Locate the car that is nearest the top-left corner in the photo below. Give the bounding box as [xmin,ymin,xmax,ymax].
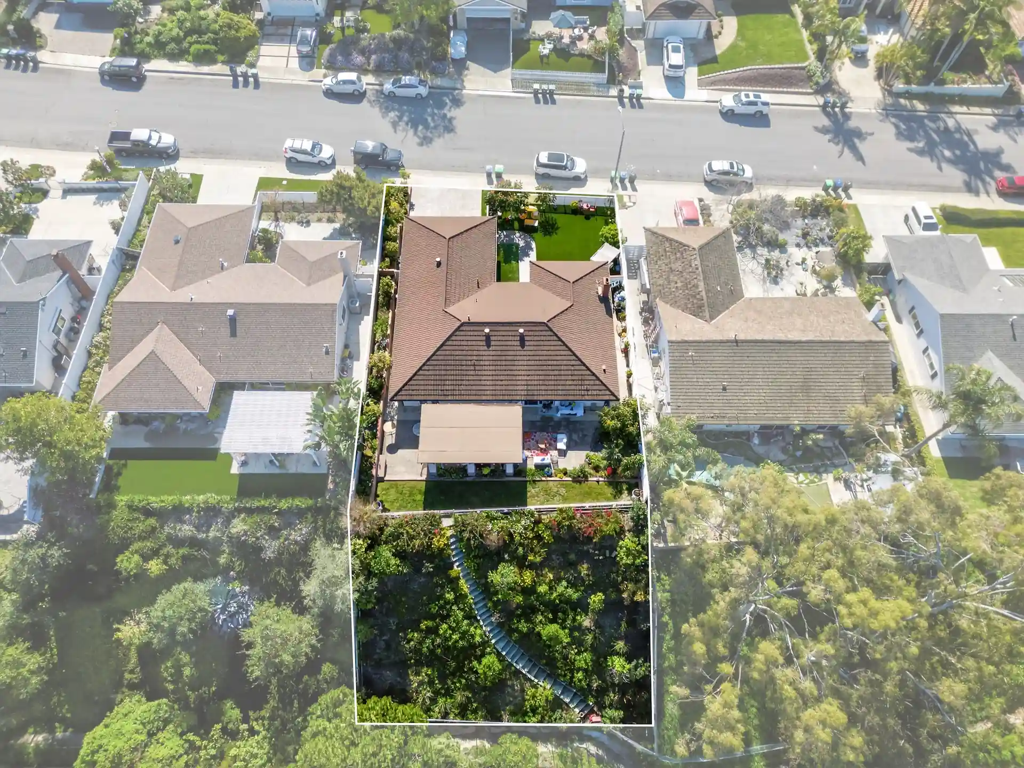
[95,59,143,84]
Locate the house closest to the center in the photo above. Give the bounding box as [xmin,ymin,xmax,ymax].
[389,215,619,413]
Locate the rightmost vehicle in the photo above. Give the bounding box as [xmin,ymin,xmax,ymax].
[998,170,1024,194]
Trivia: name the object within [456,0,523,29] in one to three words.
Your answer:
house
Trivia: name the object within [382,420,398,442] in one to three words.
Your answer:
umbrella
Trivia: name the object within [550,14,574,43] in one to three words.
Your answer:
umbrella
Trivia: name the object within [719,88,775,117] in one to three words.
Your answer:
car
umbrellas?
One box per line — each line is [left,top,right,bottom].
[550,14,574,43]
[382,420,398,442]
